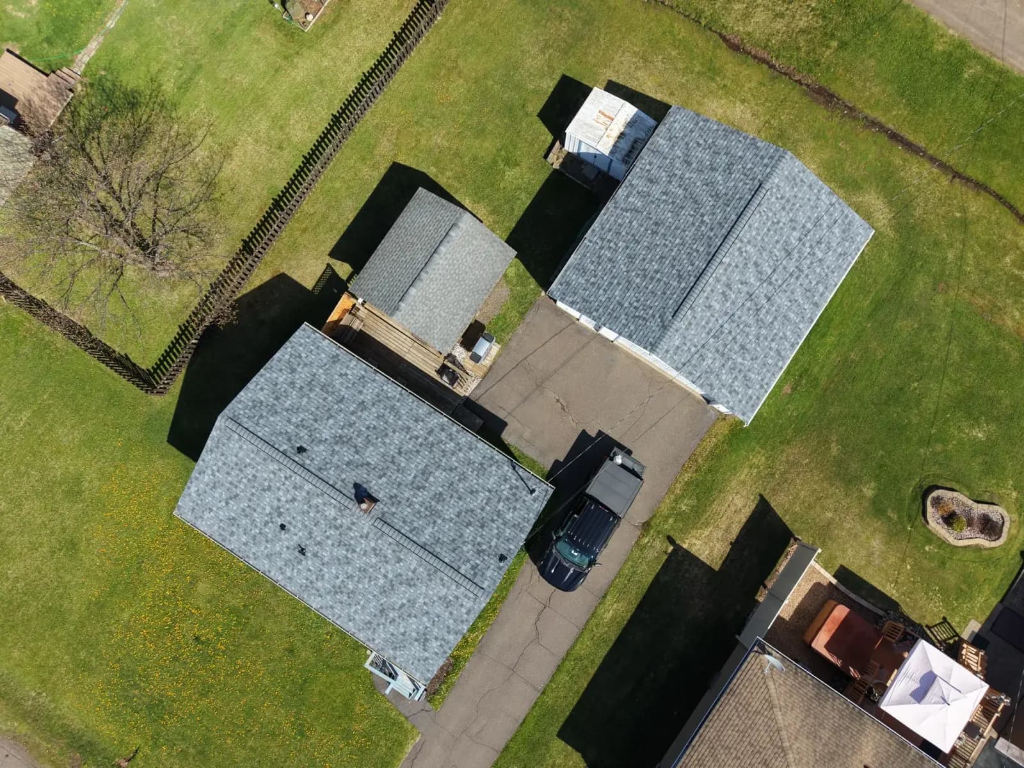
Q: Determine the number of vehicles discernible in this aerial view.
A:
1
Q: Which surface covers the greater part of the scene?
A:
grass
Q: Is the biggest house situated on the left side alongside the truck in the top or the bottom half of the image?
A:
bottom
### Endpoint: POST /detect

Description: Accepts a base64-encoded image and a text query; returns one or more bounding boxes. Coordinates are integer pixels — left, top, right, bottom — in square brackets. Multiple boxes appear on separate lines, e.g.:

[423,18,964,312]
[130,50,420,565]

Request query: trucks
[543,447,650,595]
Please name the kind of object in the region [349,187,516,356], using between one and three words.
shed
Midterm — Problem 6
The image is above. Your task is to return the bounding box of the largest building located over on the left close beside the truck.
[176,321,556,684]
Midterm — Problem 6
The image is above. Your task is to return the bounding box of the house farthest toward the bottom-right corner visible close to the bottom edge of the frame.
[636,624,957,768]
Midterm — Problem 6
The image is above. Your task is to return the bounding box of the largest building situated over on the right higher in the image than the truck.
[545,102,873,426]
